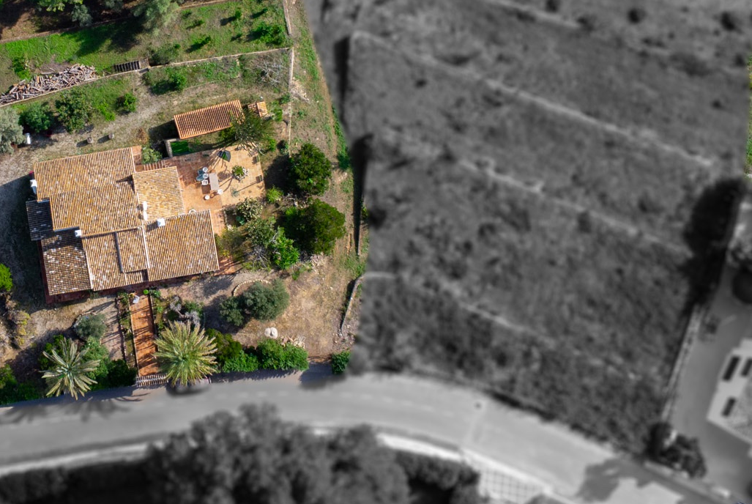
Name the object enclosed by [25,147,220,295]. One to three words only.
house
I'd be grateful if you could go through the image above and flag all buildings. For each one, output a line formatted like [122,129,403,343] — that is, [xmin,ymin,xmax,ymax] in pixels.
[689,324,752,441]
[174,100,246,139]
[247,97,269,117]
[25,147,220,295]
